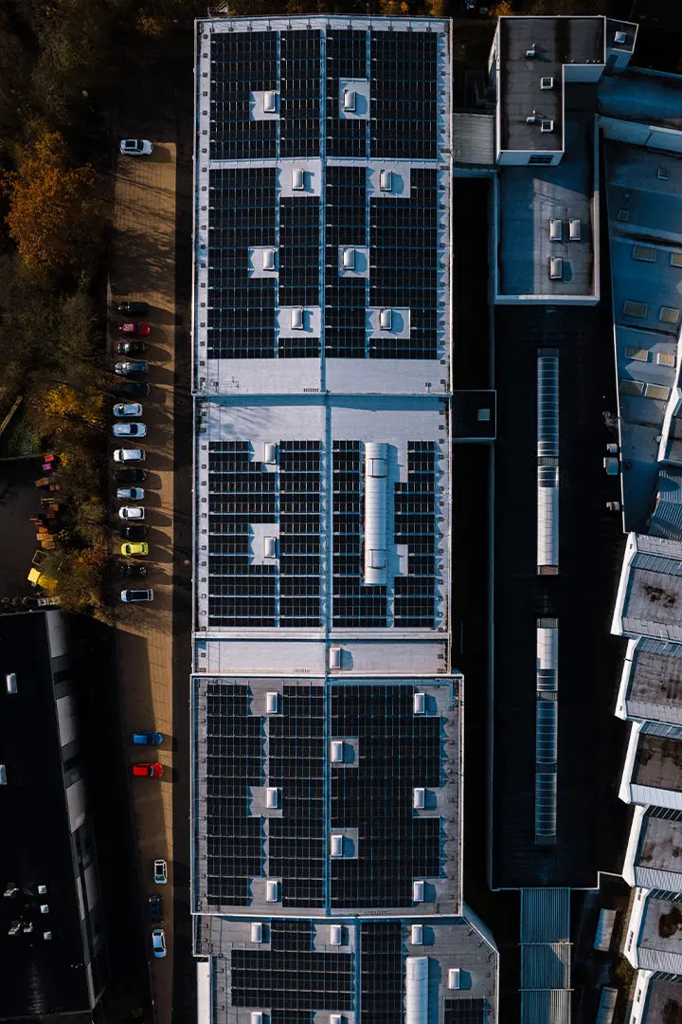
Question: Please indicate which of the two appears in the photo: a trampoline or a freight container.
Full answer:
I can see a freight container in this picture.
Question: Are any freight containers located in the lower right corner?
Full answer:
Yes, I can see a freight container in the lower right corner.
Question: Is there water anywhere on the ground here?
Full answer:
No, the picture contains no water.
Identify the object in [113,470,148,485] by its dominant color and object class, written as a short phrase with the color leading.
black car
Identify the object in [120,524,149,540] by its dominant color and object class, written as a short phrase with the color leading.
black car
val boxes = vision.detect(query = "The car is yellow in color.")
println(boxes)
[121,541,151,557]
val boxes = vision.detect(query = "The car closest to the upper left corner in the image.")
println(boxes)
[119,137,154,159]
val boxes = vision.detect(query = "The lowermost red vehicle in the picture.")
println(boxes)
[133,762,165,778]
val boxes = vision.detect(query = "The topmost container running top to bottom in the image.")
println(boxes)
[589,903,617,952]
